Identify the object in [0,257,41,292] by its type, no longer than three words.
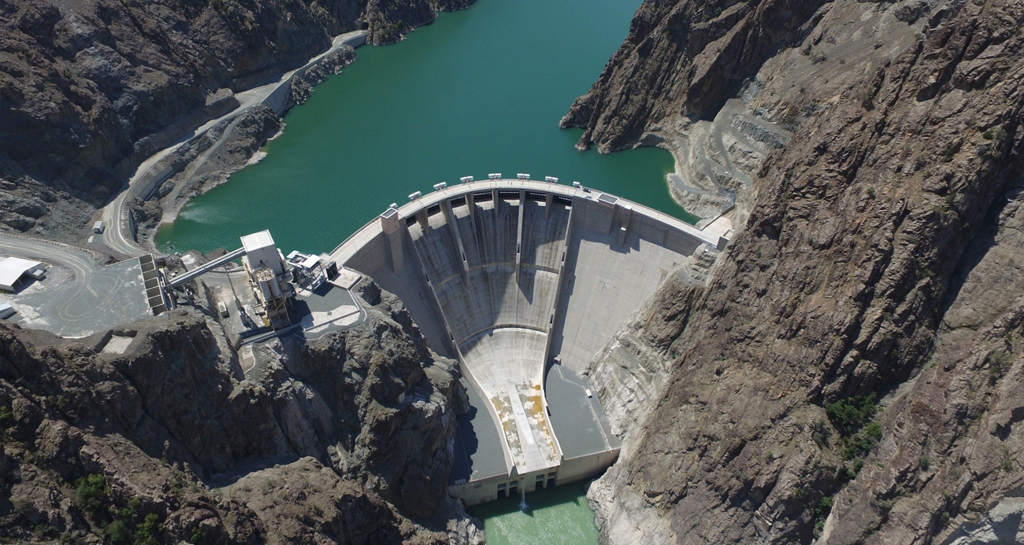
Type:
building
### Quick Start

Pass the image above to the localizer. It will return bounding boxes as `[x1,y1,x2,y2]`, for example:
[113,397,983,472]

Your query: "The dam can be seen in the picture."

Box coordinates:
[318,178,736,477]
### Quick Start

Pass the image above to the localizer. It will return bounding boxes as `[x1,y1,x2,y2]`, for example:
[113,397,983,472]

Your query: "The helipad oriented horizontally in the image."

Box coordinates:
[301,305,360,332]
